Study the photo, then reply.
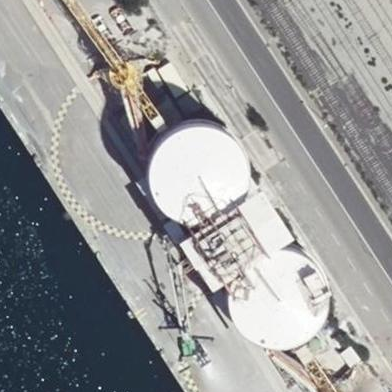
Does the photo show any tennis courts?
No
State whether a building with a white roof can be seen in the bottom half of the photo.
Yes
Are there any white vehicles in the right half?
No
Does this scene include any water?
Yes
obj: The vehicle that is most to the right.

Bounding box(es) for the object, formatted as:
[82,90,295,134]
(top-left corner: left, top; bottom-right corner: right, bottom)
[108,4,135,35]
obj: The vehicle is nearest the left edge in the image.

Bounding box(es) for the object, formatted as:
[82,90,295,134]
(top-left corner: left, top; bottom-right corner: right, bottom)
[94,16,114,42]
